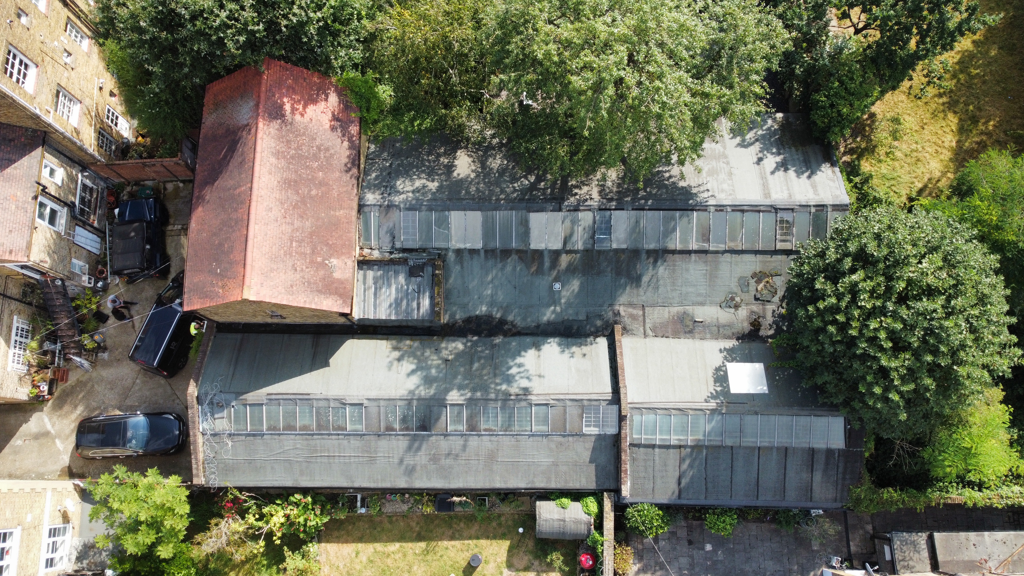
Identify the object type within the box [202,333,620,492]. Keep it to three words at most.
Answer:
building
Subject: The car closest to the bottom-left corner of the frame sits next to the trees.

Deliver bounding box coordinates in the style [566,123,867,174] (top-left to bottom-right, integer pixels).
[71,410,189,461]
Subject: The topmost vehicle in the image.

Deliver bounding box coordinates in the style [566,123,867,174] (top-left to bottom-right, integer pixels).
[112,201,173,291]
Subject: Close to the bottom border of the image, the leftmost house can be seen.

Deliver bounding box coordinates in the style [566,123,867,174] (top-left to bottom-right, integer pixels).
[0,481,85,576]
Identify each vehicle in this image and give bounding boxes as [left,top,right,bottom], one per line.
[71,410,189,461]
[126,260,206,377]
[112,201,173,291]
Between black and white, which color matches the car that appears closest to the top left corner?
black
